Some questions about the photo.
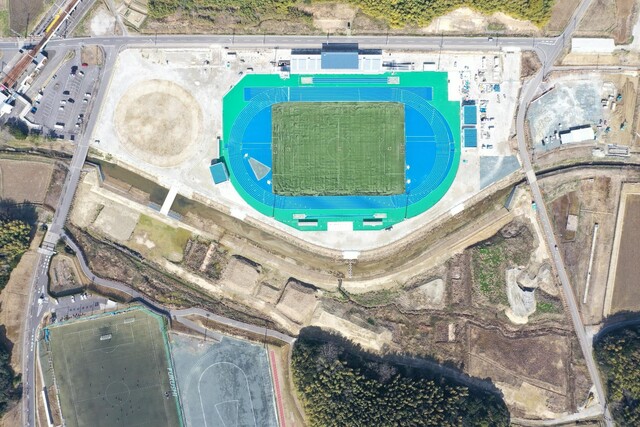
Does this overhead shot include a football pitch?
Yes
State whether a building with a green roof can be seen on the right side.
No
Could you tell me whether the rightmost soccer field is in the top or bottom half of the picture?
top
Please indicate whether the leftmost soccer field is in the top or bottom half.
bottom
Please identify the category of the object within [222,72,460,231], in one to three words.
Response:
running track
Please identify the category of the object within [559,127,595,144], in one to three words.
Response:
building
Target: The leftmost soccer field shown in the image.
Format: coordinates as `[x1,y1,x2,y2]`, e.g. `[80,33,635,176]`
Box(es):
[48,306,189,427]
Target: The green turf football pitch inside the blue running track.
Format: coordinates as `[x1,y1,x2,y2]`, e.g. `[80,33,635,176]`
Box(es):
[272,102,405,194]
